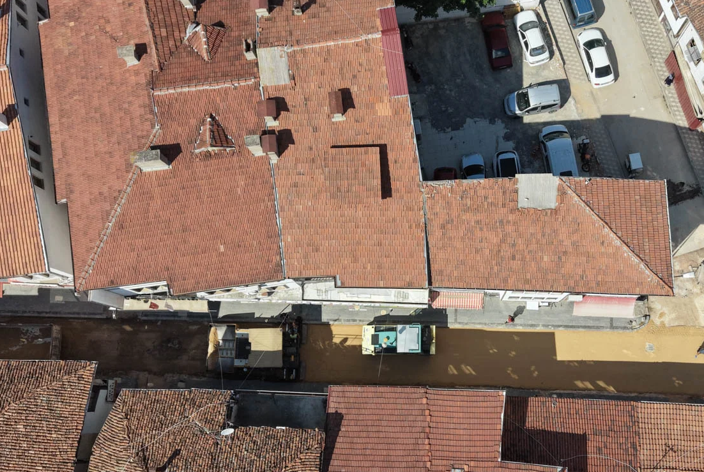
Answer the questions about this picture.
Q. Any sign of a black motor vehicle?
Yes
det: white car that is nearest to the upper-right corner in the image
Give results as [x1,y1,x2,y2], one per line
[577,28,615,90]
